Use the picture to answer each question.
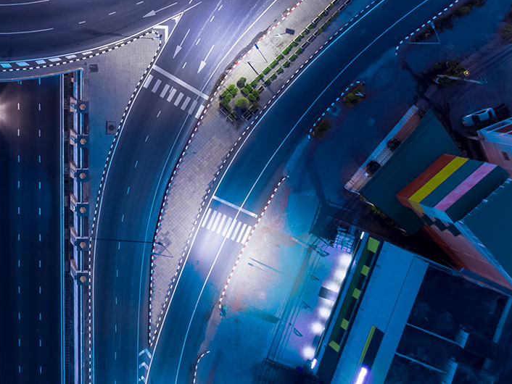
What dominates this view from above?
paved ground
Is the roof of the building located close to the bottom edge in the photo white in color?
No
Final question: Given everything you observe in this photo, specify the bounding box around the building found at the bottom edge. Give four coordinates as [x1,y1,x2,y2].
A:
[301,232,429,384]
